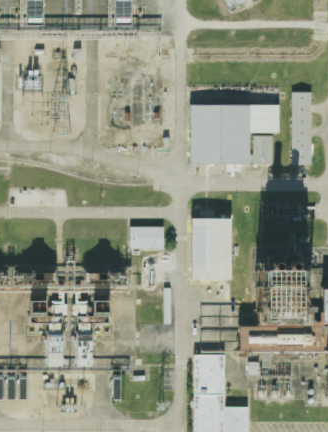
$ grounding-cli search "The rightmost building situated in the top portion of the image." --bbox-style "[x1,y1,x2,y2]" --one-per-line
[292,92,312,166]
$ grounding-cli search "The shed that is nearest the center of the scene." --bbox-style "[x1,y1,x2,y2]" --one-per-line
[130,227,164,250]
